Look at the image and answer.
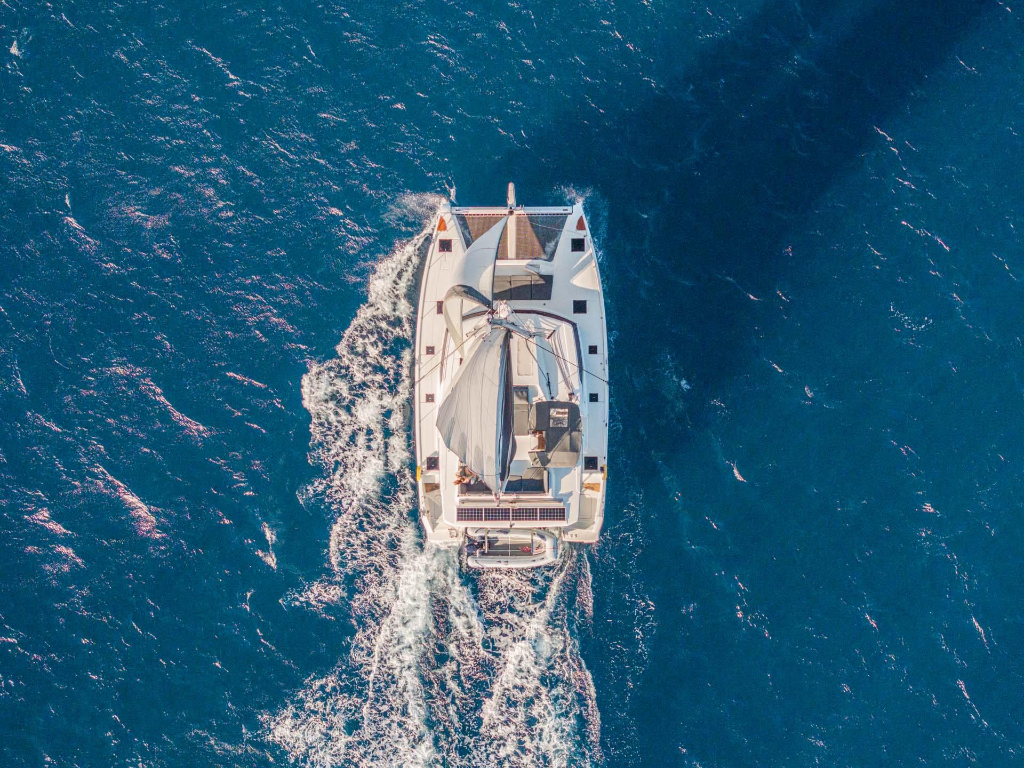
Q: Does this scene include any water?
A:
Yes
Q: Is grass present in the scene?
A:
No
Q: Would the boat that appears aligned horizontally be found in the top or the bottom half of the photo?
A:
bottom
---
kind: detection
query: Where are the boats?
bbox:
[415,183,609,542]
[465,526,557,568]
